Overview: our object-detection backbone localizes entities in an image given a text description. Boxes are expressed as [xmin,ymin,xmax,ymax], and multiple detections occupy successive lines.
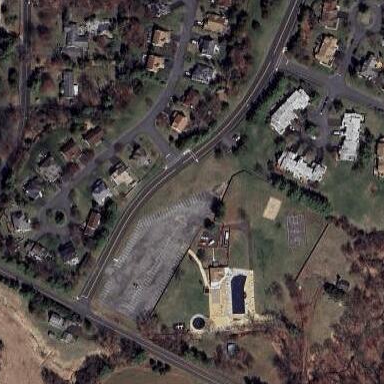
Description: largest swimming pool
[210,268,267,328]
